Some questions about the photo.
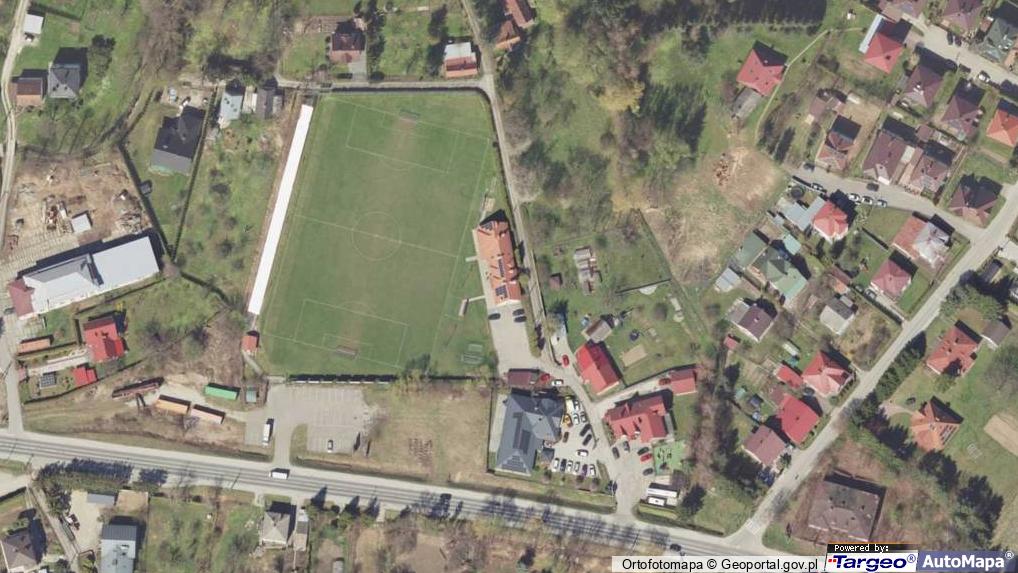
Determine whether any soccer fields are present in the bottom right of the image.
No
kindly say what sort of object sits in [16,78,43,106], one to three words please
shed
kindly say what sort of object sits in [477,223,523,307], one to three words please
building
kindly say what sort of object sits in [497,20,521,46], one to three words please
house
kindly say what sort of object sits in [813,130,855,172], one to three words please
house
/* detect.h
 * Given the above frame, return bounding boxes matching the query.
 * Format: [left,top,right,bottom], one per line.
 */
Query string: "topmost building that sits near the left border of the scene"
[24,14,44,35]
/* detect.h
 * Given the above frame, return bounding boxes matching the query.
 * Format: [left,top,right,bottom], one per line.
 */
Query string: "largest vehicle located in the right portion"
[646,487,678,500]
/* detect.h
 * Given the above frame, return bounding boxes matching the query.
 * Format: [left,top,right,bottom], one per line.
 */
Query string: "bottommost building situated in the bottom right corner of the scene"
[810,478,880,543]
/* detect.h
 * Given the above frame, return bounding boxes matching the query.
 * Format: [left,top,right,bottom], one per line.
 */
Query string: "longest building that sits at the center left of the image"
[8,238,158,317]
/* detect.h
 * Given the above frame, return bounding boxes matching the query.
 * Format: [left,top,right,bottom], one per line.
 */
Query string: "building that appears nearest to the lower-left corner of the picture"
[2,531,40,571]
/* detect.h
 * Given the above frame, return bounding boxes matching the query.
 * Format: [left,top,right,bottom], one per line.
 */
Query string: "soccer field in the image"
[257,93,495,383]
